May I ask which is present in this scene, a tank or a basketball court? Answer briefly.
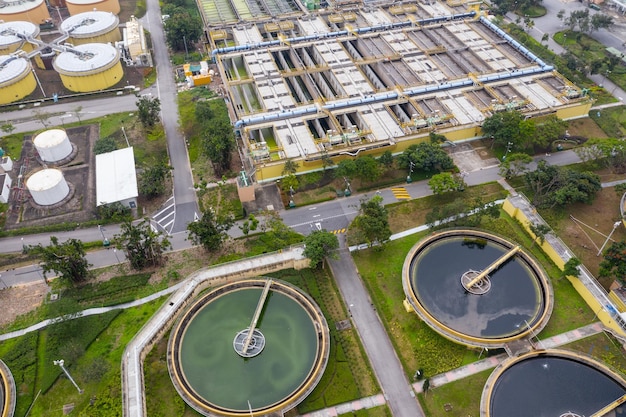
tank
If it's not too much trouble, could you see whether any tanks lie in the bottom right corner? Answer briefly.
Yes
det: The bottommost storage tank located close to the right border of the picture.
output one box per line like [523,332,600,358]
[474,341,626,417]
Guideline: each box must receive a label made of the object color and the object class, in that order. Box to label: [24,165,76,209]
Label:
white storage tank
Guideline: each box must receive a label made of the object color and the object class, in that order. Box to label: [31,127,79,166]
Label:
white storage tank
